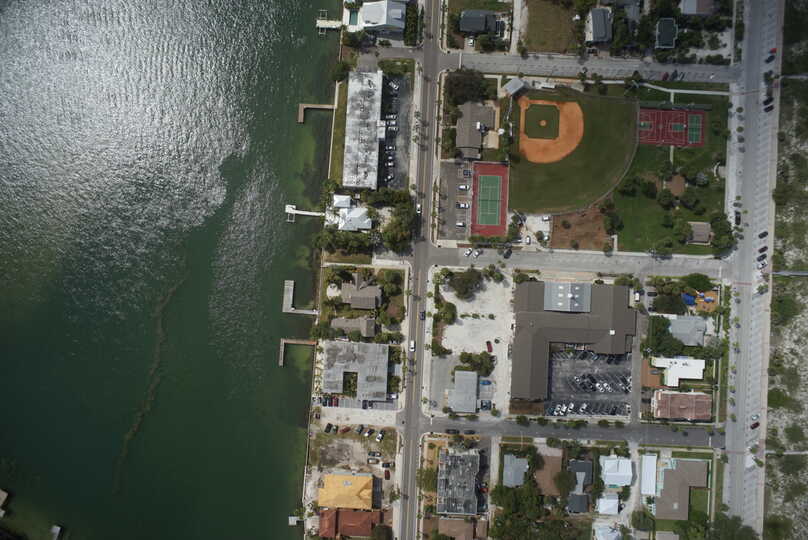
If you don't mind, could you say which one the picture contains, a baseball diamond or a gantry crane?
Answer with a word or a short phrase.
baseball diamond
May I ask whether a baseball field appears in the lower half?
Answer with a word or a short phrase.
No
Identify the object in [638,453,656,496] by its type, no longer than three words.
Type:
shed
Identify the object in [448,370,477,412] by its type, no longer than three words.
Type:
building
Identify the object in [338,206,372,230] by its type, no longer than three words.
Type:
house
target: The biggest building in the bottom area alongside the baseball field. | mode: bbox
[510,283,638,402]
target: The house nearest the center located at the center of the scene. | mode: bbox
[342,272,381,309]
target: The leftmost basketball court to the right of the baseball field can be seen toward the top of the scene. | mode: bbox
[638,109,686,146]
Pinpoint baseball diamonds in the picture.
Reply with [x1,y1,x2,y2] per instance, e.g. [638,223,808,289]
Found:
[511,88,638,217]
